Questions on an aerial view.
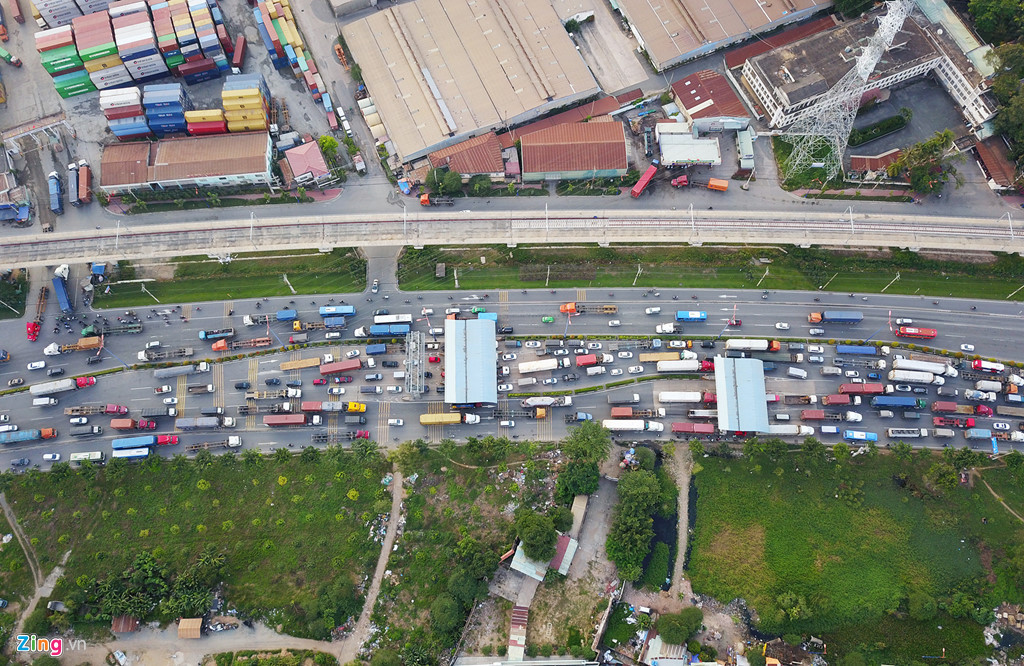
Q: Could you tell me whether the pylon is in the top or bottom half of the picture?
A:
top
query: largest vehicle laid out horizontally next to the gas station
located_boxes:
[670,176,728,193]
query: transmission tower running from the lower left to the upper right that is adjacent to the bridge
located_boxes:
[781,0,924,184]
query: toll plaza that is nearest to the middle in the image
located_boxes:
[424,318,520,409]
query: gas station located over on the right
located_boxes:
[660,134,721,171]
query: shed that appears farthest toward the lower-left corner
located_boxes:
[112,616,143,632]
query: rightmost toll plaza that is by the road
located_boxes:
[687,358,785,439]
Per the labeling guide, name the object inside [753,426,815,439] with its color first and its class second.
white vehicle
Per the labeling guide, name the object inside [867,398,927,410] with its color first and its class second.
blue vehicle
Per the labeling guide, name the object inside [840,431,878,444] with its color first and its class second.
blue vehicle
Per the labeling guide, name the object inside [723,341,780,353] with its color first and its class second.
white vehicle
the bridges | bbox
[0,210,1024,274]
